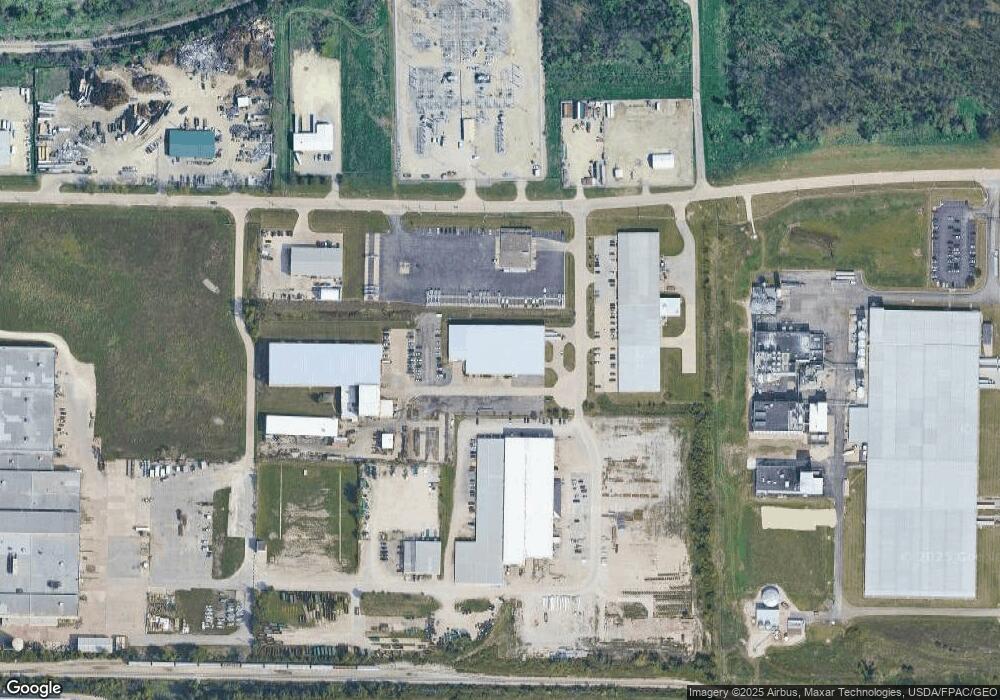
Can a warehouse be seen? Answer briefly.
Yes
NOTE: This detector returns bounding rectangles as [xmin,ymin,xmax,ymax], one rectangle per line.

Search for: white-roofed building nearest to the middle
[448,324,544,375]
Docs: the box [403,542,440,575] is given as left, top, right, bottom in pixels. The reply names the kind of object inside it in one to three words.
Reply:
building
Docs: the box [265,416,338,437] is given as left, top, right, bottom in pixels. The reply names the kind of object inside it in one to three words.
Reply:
shed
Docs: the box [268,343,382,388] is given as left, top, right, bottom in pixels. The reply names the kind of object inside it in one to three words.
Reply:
building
